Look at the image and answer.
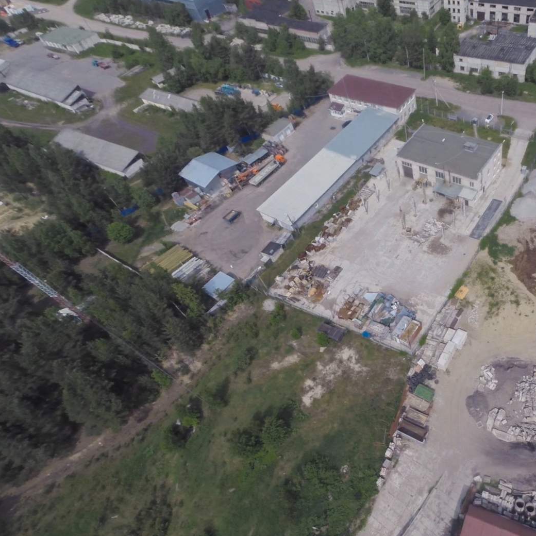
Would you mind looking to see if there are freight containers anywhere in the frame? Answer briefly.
Yes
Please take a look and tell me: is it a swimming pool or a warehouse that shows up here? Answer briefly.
warehouse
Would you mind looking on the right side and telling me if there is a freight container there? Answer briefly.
Yes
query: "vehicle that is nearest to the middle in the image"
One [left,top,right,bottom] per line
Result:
[221,209,242,227]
